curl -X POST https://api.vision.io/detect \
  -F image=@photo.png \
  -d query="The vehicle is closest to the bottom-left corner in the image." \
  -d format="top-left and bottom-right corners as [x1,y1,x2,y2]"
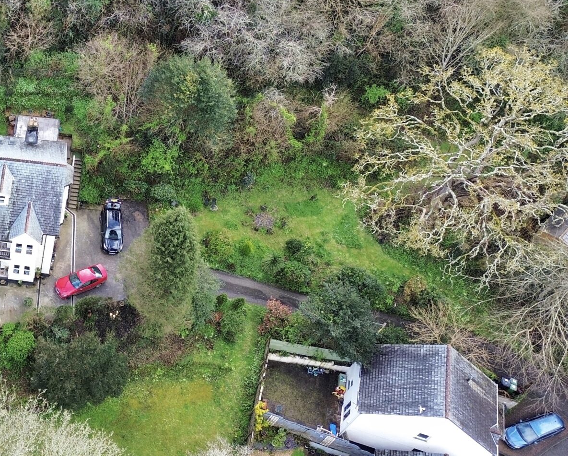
[50,259,113,301]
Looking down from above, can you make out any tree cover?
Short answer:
Yes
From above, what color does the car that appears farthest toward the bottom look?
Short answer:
blue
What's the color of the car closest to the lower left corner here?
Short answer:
red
